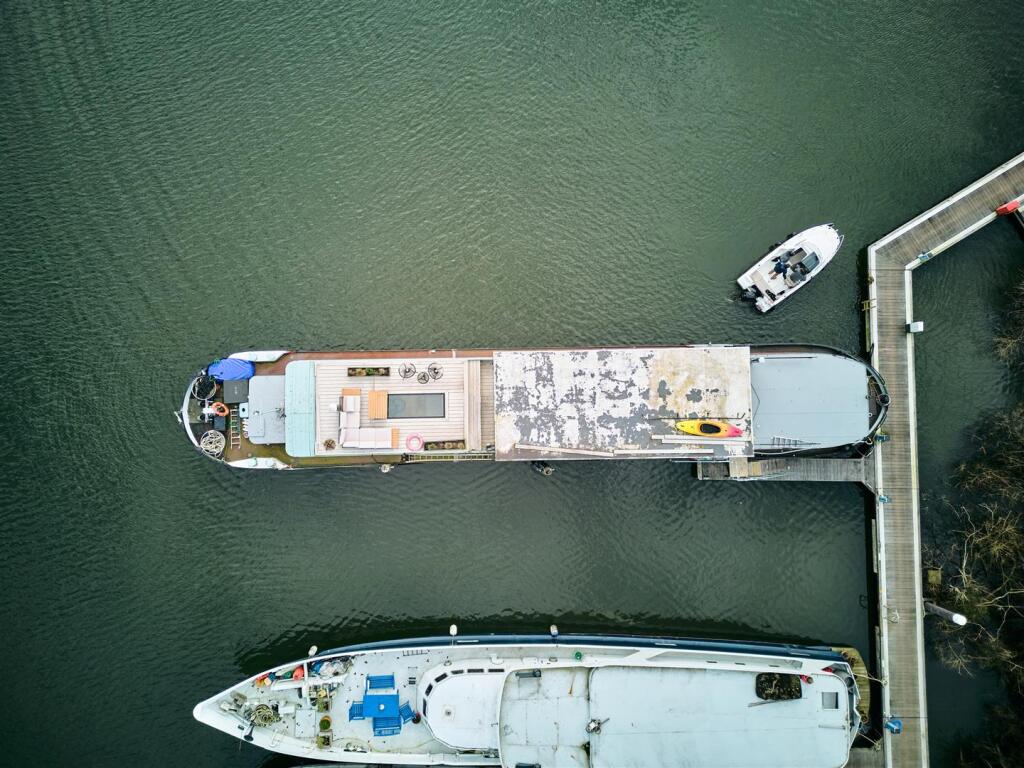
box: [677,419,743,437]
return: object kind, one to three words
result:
boat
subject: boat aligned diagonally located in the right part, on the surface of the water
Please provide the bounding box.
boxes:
[737,227,845,314]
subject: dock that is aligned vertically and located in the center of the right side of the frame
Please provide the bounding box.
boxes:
[864,153,1024,768]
